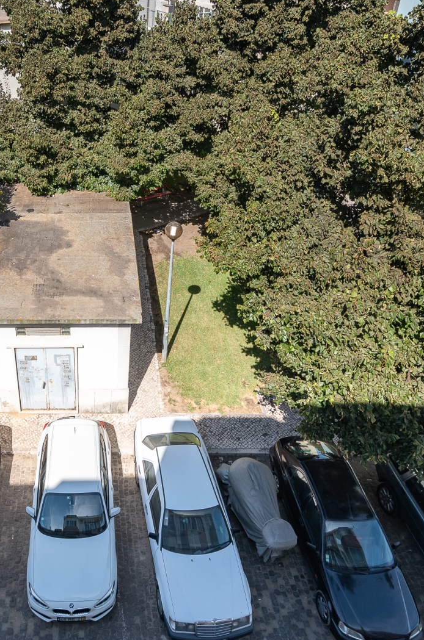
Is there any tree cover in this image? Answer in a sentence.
Yes, there's tree cover in this view.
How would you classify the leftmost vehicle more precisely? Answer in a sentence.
The leftmost vehicle can be classified as an automobile.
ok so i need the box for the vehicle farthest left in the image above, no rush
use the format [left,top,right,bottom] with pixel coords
[28,427,118,625]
